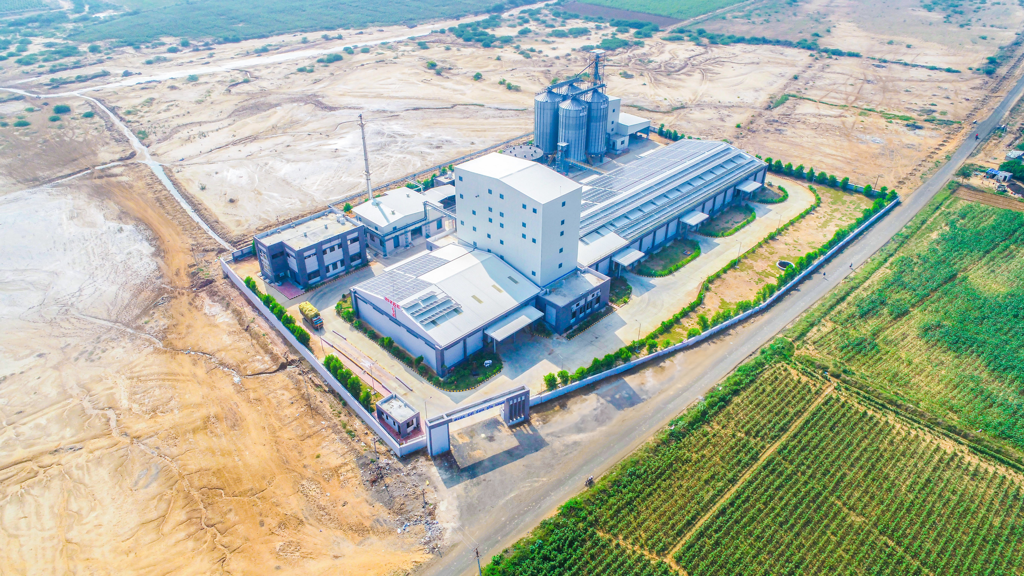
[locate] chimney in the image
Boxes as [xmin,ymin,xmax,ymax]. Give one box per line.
[356,110,374,200]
